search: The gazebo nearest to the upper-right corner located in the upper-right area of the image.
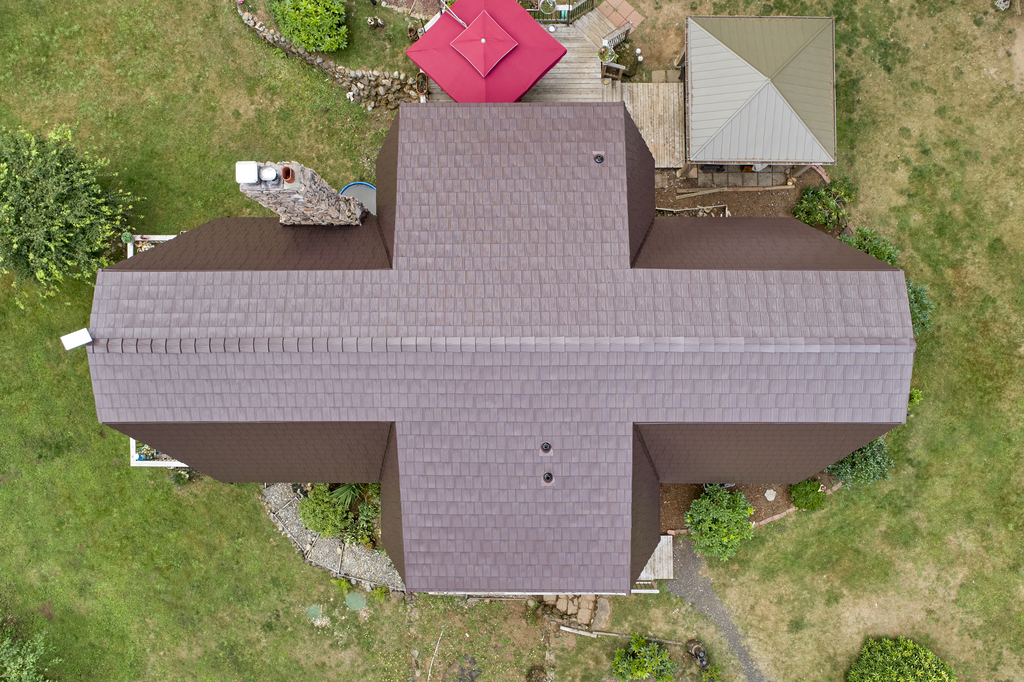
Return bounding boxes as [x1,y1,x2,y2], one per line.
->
[670,15,837,182]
